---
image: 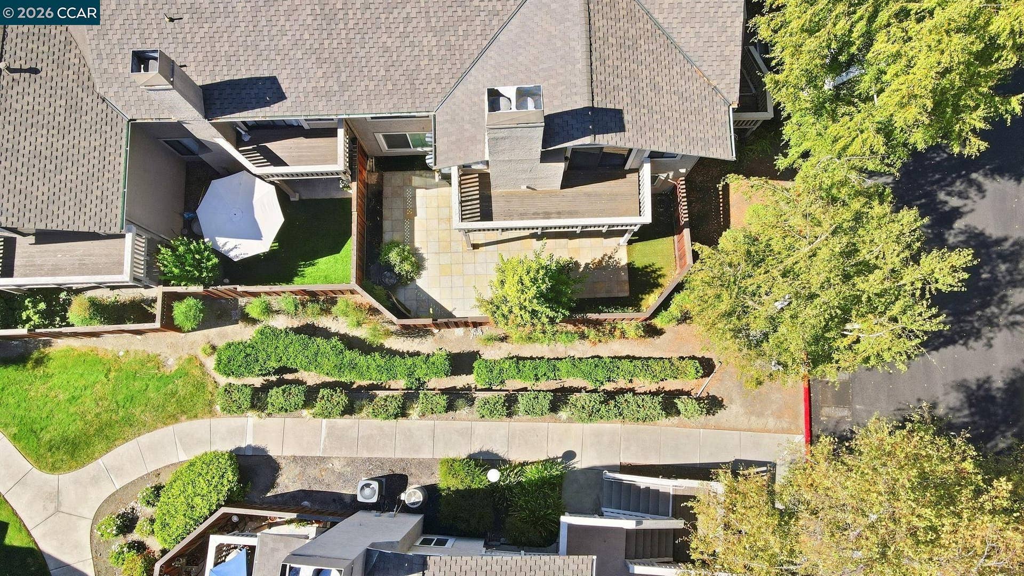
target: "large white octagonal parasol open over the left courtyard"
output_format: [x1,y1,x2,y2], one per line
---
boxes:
[196,171,285,261]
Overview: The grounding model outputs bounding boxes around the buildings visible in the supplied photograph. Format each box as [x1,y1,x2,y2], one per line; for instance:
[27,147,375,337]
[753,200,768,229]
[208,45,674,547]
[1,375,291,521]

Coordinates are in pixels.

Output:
[205,472,733,576]
[93,0,771,250]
